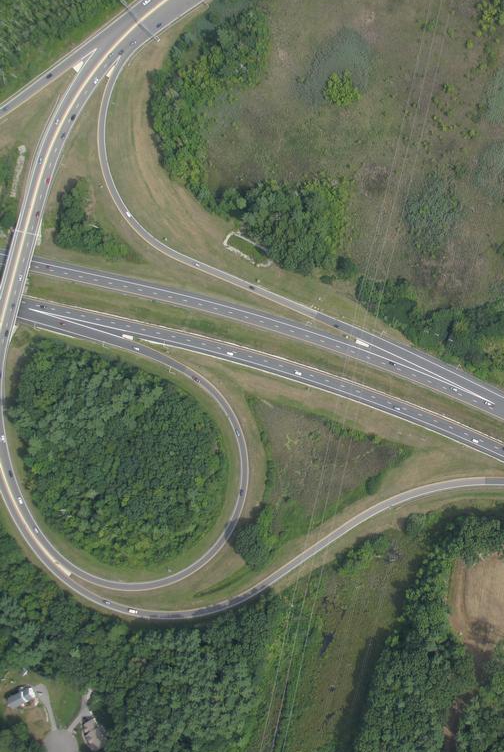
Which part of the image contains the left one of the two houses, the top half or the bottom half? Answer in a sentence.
The left one of the two houses sits in the bottom half of the picture.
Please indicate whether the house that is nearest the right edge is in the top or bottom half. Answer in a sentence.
The bottom half of the photo is where the house that is nearest the right edge is.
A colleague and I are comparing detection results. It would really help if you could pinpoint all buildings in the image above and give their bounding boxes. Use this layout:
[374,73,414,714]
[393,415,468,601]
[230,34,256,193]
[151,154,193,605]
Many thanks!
[5,686,41,709]
[79,717,101,751]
